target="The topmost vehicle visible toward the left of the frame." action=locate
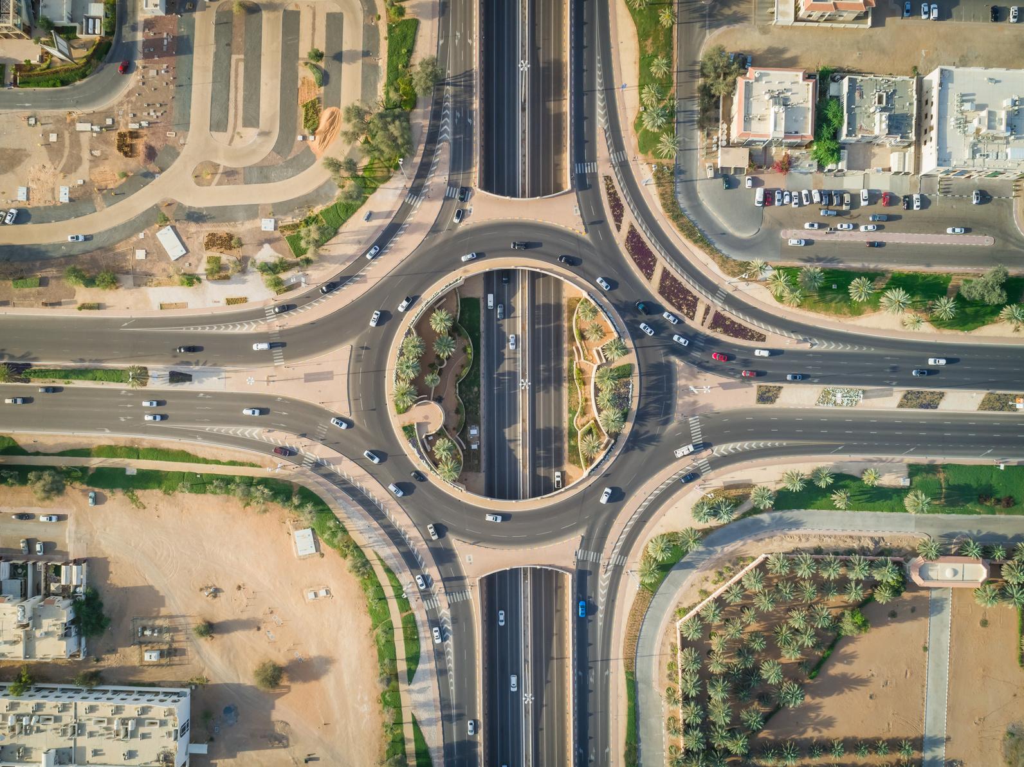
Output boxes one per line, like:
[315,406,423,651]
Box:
[118,59,131,75]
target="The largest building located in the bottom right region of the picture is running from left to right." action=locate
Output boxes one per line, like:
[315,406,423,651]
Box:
[902,553,992,588]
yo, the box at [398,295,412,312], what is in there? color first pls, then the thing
white vehicle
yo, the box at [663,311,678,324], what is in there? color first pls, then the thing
white vehicle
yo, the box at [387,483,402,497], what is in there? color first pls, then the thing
white car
